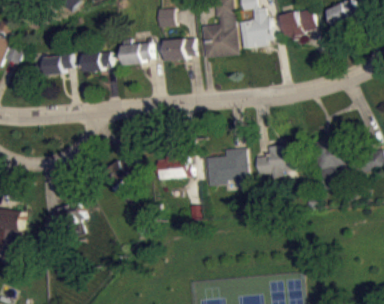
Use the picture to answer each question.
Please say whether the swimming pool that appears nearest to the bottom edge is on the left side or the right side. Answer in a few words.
left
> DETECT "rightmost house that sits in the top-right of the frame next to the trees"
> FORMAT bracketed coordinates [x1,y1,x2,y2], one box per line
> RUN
[324,0,361,23]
